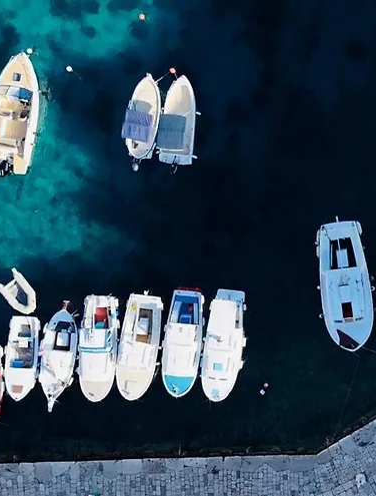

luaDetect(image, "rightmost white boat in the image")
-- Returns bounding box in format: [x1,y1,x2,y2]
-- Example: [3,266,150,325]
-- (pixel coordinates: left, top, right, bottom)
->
[197,288,250,403]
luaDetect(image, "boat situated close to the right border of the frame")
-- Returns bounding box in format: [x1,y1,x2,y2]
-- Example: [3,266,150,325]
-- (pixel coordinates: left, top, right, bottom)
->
[314,215,376,352]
